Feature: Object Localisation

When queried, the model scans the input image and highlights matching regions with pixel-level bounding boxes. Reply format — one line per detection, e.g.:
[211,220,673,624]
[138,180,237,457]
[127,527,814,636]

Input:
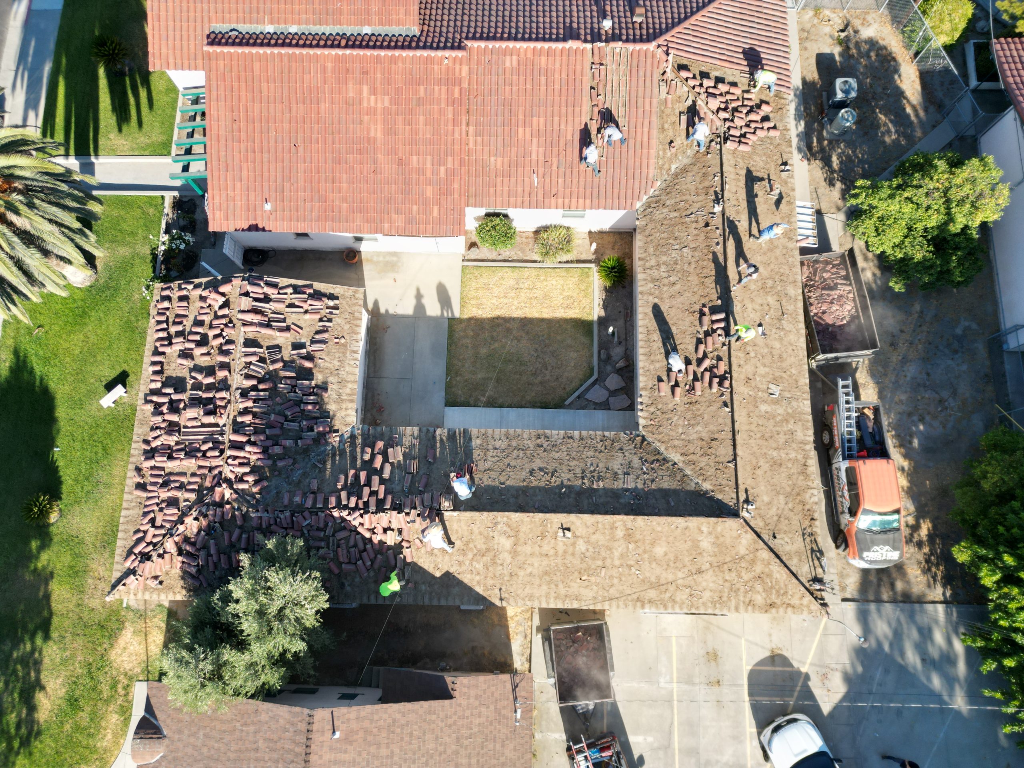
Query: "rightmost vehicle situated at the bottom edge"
[763,702,846,768]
